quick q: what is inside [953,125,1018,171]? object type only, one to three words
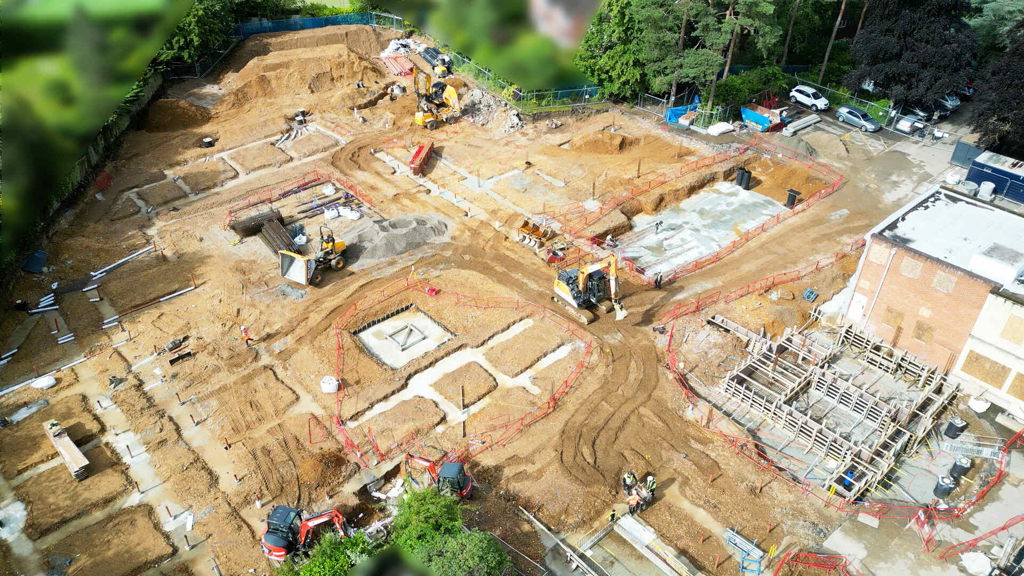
shipping container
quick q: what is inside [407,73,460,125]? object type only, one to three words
work vehicle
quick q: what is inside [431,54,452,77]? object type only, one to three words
truck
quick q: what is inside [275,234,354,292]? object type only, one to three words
truck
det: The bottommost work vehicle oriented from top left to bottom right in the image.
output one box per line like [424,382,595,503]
[410,434,484,509]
